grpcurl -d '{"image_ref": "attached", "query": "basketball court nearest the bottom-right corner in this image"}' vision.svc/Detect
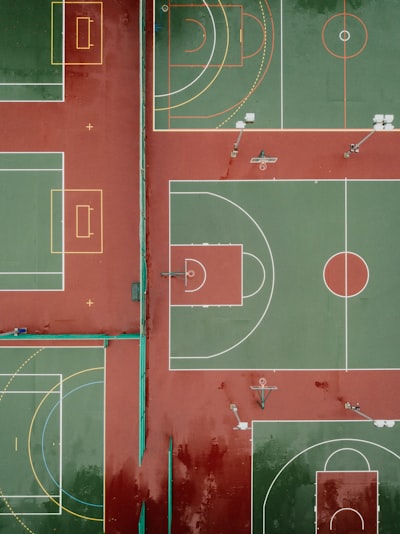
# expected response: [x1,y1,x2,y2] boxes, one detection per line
[248,420,400,534]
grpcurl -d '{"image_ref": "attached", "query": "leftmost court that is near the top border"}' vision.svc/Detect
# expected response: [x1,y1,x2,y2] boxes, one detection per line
[0,0,102,102]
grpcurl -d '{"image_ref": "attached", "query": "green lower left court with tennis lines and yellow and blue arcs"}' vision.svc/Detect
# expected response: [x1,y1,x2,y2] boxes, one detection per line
[0,347,105,534]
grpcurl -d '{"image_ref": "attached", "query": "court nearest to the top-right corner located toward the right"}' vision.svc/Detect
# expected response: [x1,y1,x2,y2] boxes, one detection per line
[153,0,400,131]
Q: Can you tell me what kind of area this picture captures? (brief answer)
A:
sports ground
